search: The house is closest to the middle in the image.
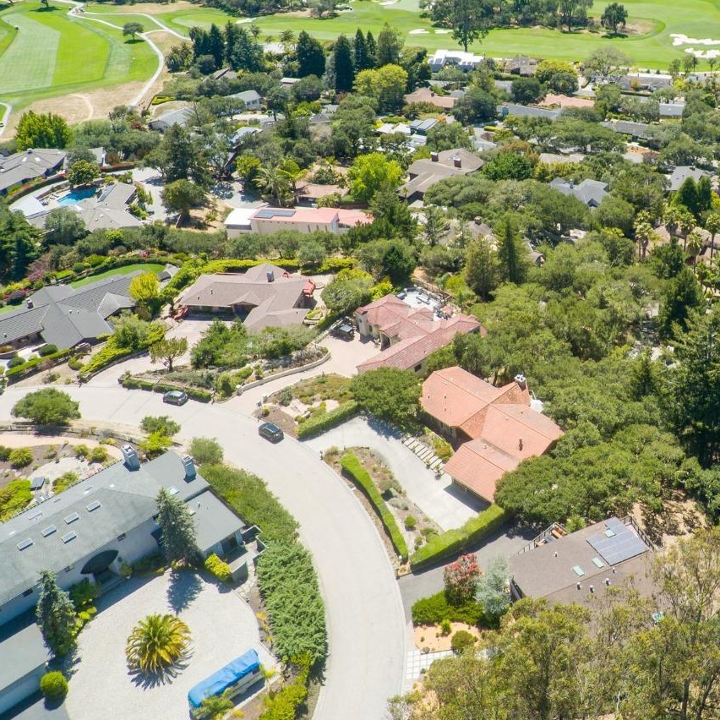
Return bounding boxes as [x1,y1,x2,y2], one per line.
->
[358,283,481,378]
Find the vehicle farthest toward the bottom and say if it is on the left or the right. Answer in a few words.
left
